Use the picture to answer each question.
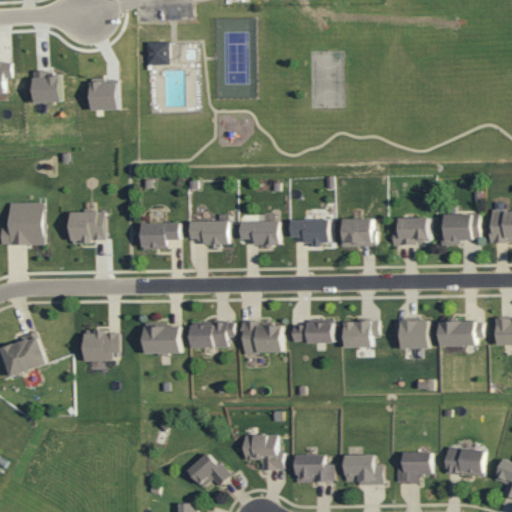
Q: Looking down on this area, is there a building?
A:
Yes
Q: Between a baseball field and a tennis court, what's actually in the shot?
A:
tennis court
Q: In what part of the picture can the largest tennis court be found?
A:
top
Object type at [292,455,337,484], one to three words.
house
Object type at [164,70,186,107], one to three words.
swimming pool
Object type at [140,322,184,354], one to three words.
house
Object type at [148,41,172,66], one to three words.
building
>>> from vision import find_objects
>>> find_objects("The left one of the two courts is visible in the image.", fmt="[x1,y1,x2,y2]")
[216,18,258,100]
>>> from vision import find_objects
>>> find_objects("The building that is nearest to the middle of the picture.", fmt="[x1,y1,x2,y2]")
[238,222,282,247]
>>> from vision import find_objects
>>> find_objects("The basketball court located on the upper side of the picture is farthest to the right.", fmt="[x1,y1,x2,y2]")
[312,51,346,108]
